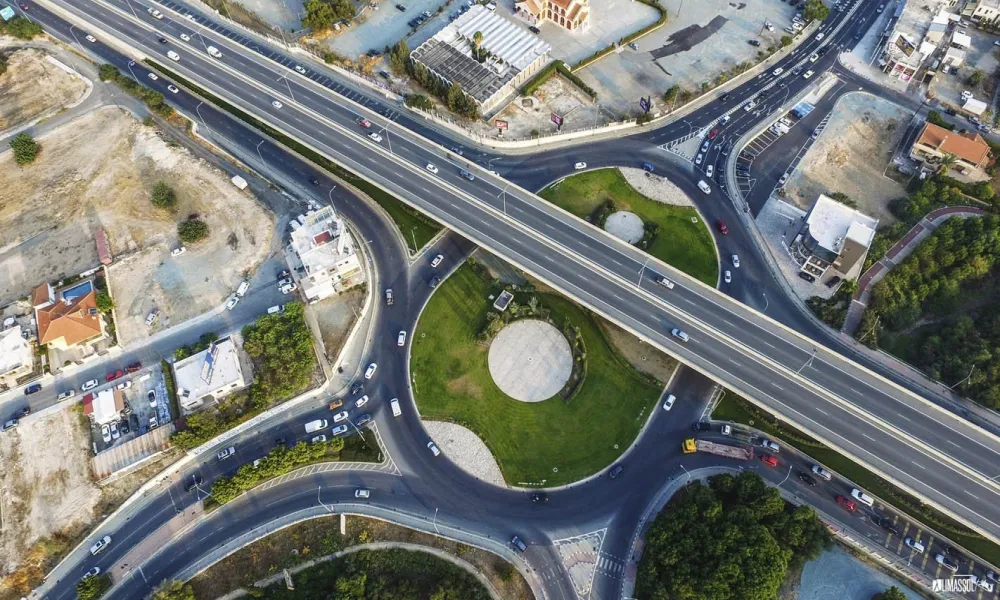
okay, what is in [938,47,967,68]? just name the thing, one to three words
shed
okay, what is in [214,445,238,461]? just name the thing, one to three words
vehicle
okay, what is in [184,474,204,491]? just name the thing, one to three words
car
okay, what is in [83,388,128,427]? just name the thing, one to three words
house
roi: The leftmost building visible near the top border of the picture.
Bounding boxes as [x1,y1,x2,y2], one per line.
[411,6,553,118]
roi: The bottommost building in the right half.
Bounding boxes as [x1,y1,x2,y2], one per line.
[783,193,878,280]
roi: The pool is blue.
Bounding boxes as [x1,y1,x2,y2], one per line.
[62,279,96,299]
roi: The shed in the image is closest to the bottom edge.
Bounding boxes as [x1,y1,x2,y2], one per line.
[92,424,178,479]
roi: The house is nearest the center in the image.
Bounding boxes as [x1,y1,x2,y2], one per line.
[289,205,364,311]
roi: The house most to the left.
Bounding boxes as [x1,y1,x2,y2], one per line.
[0,325,46,393]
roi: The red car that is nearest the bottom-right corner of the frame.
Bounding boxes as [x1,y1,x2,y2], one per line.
[835,495,858,513]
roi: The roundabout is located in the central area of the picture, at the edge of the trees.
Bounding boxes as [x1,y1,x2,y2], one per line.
[384,145,762,544]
